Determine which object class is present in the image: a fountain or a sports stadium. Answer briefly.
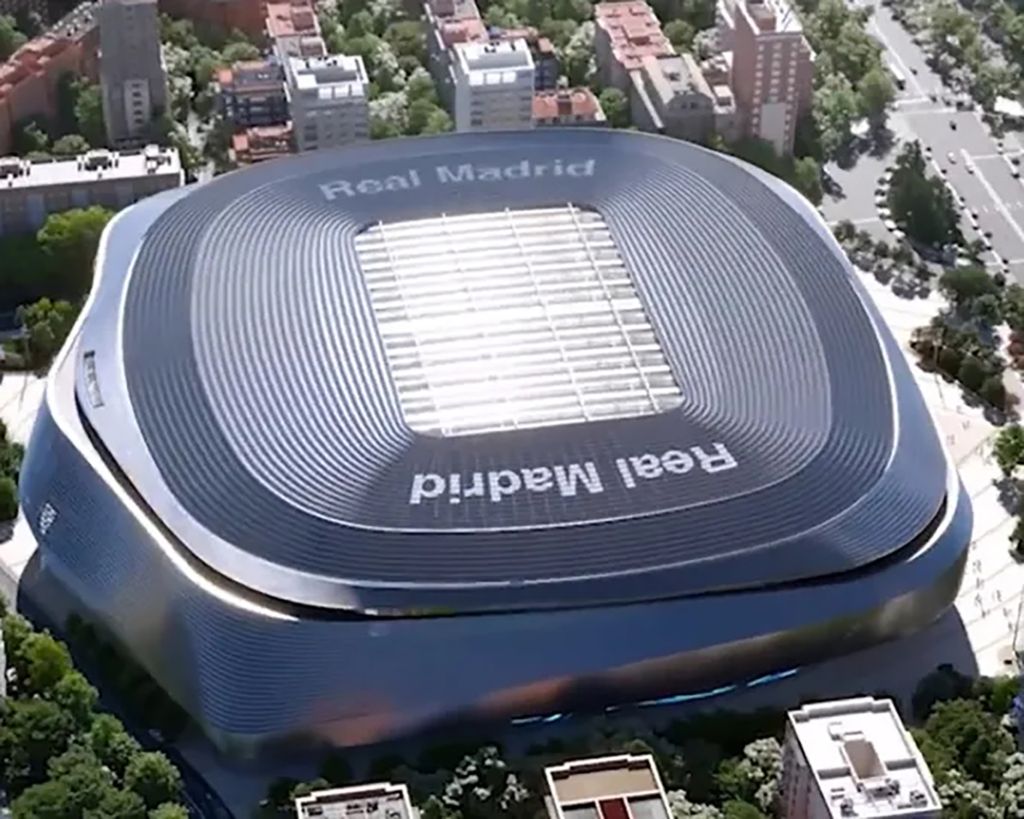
sports stadium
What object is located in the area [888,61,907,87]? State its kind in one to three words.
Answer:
vehicle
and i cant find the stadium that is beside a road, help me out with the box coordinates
[17,127,977,753]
